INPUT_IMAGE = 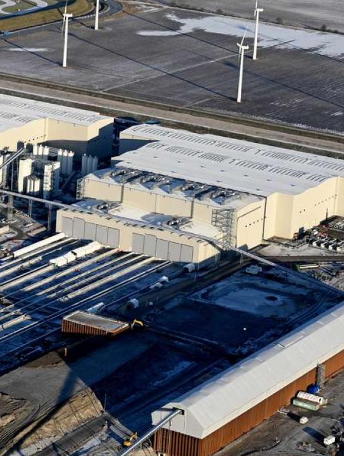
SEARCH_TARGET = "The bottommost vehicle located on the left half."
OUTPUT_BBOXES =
[120,431,143,447]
